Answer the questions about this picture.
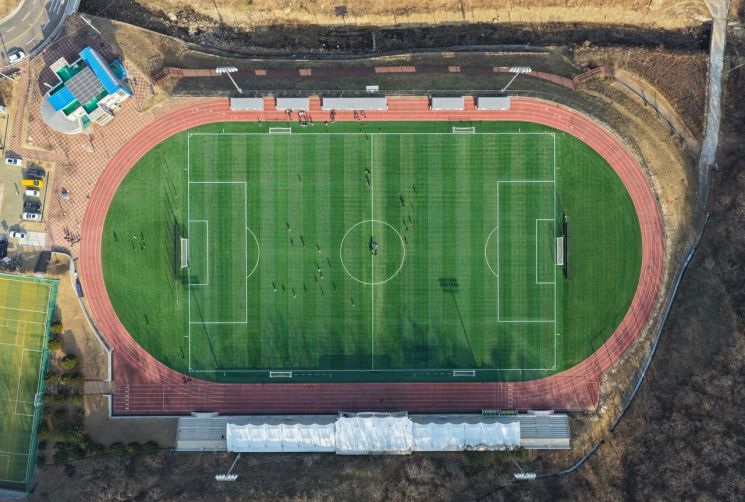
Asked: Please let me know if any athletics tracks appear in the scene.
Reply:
Yes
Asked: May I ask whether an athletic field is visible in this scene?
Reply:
Yes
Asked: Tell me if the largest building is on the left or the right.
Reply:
left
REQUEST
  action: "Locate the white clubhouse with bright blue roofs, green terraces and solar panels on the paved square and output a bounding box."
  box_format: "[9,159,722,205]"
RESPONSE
[40,44,142,135]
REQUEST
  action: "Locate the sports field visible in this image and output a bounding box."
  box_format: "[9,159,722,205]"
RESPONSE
[102,122,642,383]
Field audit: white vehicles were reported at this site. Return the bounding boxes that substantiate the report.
[25,189,41,196]
[8,51,27,63]
[6,156,23,164]
[10,231,27,239]
[23,212,41,220]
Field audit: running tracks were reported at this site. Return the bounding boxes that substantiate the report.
[80,97,664,415]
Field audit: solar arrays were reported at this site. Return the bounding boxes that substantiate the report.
[64,65,104,106]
